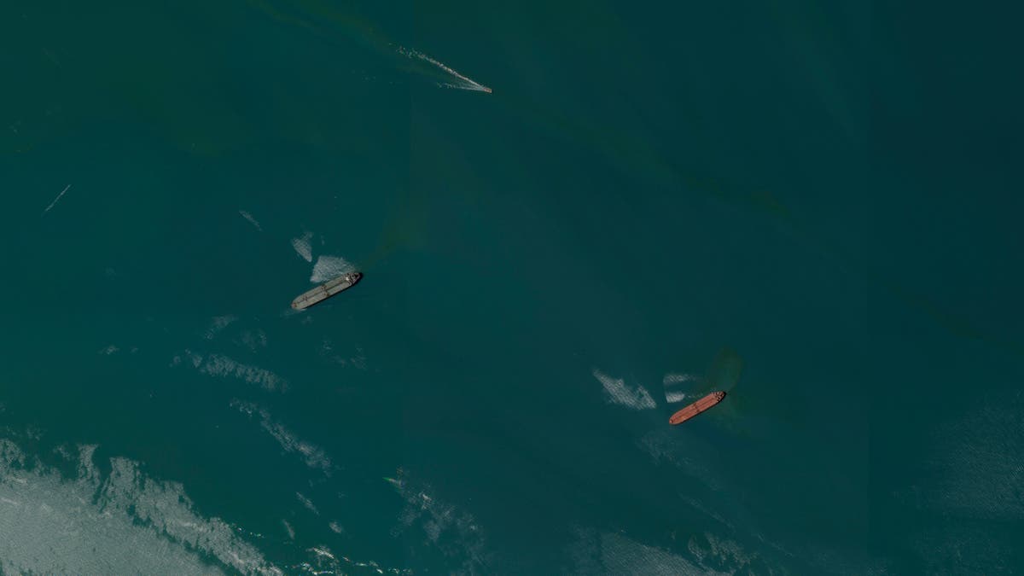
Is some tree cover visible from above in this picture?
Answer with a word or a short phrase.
No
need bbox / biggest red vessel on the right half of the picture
[669,392,725,424]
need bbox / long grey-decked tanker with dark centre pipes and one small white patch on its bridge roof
[291,273,361,308]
